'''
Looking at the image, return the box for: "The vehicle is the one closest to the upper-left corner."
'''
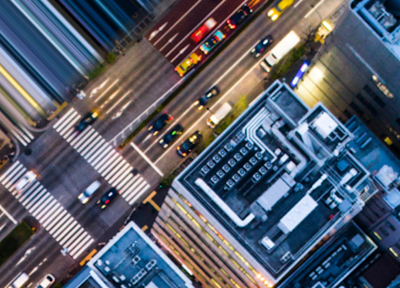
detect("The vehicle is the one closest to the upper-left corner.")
[75,107,99,132]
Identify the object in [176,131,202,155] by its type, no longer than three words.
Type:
car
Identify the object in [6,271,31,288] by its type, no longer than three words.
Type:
vehicle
